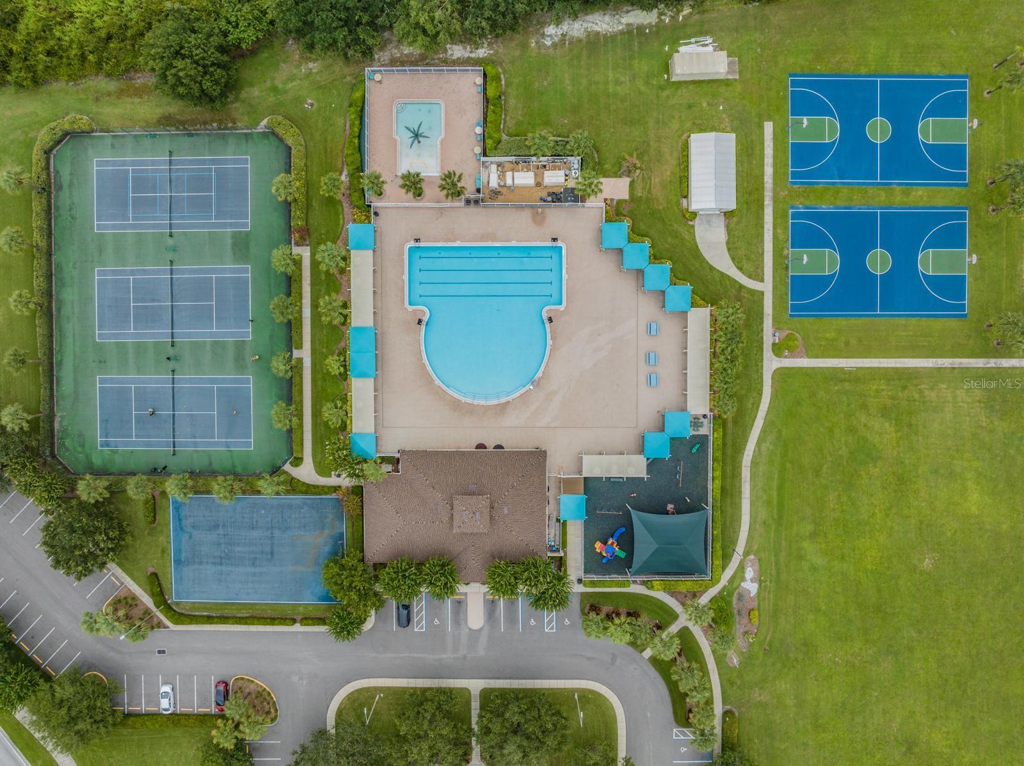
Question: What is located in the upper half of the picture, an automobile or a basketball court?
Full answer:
What appears in the upper half of the picture is a basketball court.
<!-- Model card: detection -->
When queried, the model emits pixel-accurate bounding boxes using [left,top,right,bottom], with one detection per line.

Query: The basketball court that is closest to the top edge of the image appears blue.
[789,73,968,186]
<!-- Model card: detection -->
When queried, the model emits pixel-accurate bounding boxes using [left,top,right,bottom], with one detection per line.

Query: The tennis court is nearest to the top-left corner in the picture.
[94,146,250,237]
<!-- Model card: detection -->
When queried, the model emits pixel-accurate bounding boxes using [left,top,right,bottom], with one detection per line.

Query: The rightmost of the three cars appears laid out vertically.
[396,597,411,629]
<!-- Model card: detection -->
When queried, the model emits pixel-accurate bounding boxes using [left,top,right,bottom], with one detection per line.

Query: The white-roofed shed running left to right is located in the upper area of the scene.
[668,52,731,80]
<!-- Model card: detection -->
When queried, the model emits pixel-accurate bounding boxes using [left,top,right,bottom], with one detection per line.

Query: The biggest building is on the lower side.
[363,449,548,584]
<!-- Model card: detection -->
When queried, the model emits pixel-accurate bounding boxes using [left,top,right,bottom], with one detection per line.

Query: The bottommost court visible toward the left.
[170,496,346,604]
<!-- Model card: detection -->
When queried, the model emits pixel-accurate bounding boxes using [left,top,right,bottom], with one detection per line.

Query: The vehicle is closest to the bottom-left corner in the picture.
[159,683,175,714]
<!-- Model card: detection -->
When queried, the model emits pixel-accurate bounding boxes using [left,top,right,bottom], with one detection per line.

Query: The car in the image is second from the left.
[213,680,230,711]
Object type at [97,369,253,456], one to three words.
tennis court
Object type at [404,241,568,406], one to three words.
swimming pool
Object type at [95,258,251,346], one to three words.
tennis court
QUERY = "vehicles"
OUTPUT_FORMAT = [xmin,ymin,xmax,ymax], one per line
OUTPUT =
[159,683,175,714]
[213,680,230,711]
[396,597,411,629]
